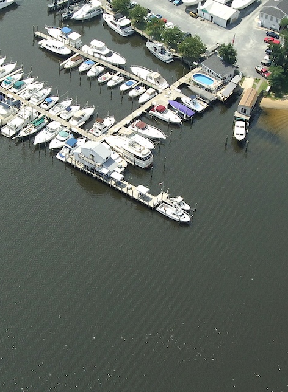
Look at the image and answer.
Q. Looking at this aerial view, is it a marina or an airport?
marina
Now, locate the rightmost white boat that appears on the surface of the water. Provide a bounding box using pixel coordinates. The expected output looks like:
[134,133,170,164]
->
[231,113,248,144]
